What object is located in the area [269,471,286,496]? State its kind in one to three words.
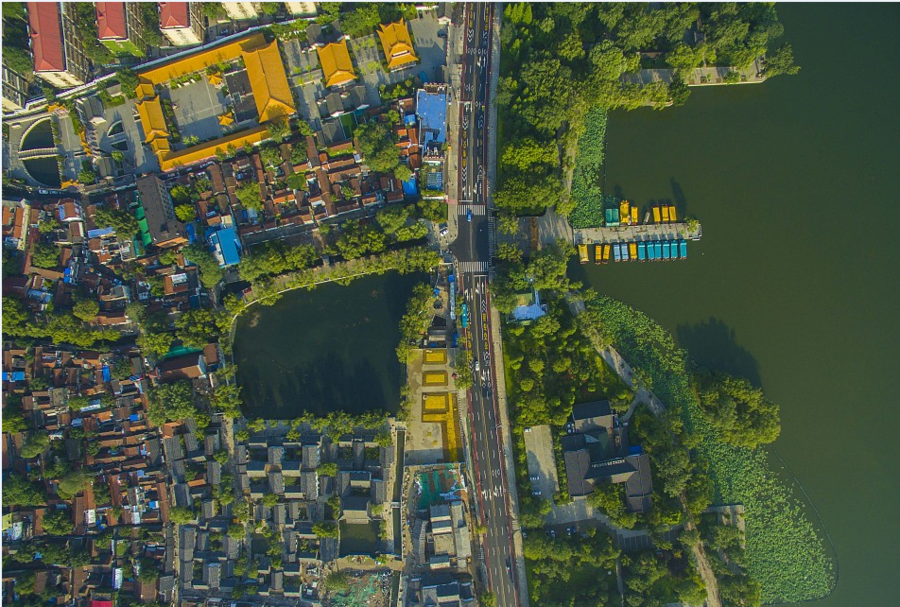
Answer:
house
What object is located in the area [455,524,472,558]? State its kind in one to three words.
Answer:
shed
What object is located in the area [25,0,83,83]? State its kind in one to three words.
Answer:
building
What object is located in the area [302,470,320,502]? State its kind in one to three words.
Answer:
house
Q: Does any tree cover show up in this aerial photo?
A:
Yes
